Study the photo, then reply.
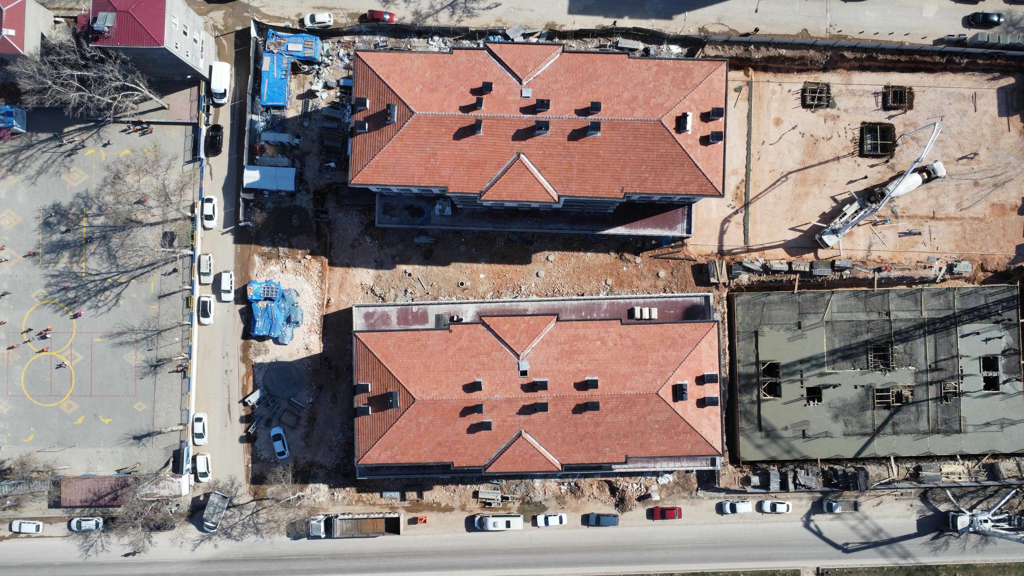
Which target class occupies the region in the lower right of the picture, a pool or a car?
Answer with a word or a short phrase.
car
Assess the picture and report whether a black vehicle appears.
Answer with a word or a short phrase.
Yes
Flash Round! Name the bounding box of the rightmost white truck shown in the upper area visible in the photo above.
[882,156,957,199]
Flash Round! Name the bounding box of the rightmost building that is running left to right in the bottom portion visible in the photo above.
[352,293,723,479]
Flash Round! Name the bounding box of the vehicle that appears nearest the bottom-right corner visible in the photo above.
[940,486,1024,543]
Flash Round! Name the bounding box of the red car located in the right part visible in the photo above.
[653,507,684,523]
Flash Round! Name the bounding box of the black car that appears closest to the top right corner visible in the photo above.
[971,8,1008,27]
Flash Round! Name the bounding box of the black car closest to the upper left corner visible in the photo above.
[204,123,222,155]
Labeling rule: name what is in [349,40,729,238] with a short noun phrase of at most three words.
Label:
building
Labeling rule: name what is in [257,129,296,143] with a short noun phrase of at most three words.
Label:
shed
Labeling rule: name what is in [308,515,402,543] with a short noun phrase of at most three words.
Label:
truck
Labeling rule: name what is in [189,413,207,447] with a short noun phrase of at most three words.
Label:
car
